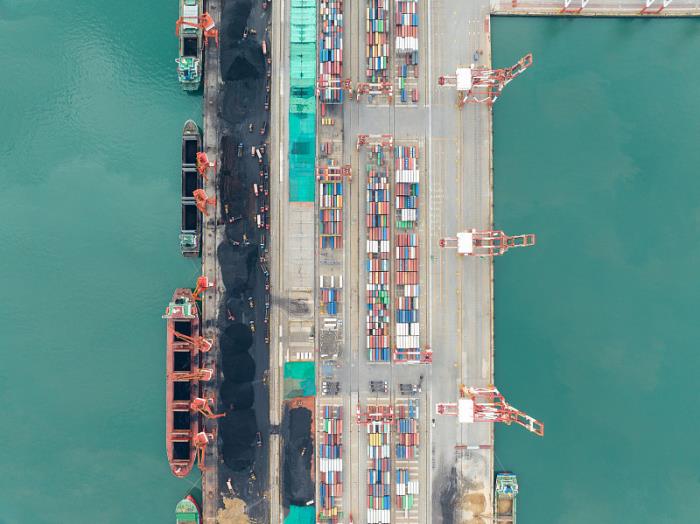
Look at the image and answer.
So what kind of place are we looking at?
port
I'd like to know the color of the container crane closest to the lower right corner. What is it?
white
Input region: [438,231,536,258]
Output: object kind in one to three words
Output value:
container crane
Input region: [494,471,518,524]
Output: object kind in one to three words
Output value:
ship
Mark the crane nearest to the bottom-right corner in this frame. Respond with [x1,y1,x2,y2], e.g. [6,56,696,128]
[438,382,543,436]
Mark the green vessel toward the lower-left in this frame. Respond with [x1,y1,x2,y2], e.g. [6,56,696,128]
[176,494,202,524]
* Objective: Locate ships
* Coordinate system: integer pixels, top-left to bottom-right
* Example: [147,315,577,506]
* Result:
[176,494,202,524]
[176,0,202,93]
[162,289,202,477]
[180,120,202,258]
[494,471,518,524]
